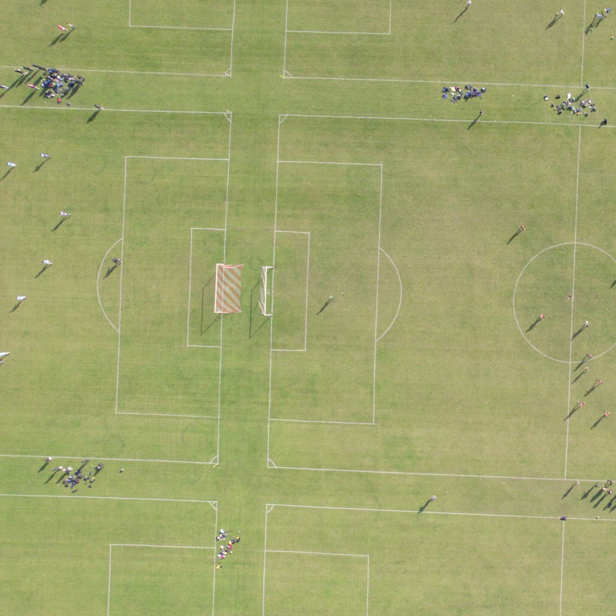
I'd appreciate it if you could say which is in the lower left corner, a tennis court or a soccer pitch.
soccer pitch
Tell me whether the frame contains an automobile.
No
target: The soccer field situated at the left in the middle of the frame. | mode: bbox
[0,105,232,465]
